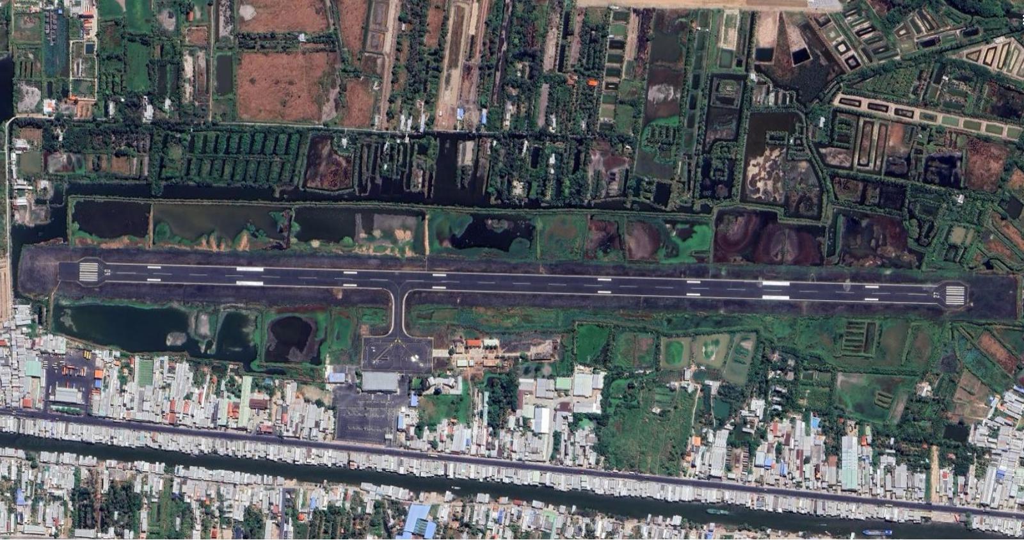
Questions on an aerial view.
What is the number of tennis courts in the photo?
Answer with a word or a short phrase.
0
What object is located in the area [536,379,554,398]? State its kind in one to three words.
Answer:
building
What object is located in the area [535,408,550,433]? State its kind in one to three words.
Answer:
building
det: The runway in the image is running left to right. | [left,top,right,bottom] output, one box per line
[59,257,968,310]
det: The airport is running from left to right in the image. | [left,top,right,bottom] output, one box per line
[19,246,1019,371]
